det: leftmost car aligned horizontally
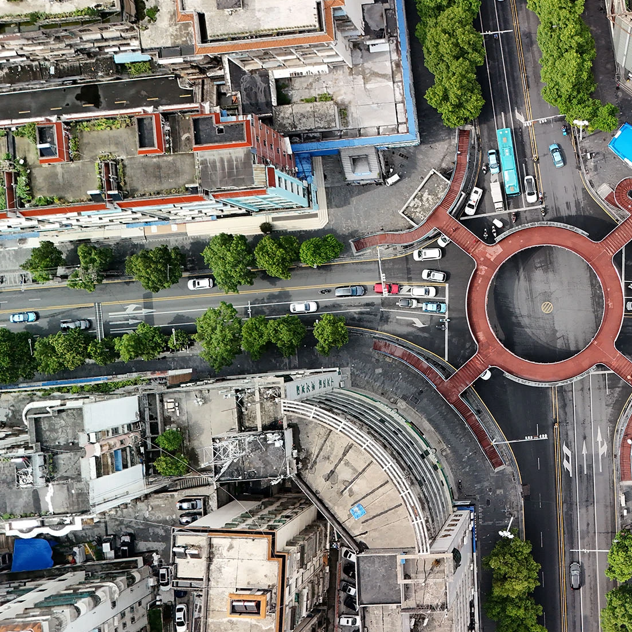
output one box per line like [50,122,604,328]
[10,312,38,324]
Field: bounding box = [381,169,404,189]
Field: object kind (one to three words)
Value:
vehicle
